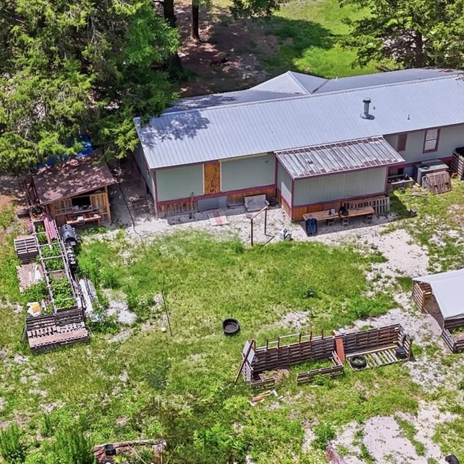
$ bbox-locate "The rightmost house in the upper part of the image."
[117,65,464,220]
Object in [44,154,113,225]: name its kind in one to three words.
shed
